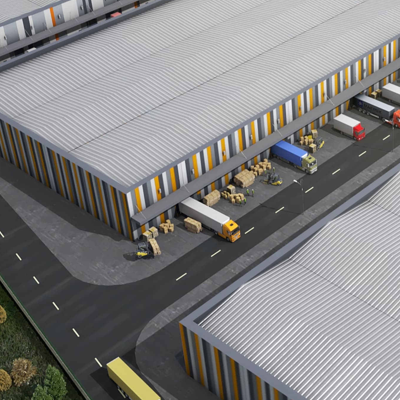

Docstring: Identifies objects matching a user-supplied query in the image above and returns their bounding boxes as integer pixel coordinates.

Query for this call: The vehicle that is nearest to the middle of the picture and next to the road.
[181,195,242,241]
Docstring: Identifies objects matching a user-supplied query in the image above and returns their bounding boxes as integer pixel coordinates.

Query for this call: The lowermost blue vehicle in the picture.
[273,139,320,174]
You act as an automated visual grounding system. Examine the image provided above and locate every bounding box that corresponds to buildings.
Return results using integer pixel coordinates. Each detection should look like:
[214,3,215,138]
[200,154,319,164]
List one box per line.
[0,0,400,242]
[179,163,400,400]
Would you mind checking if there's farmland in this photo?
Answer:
No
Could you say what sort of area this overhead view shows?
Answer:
industrial area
